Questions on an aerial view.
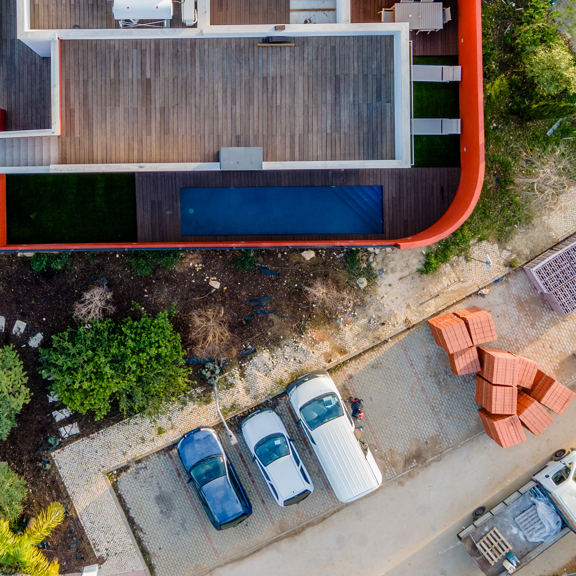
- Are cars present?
Yes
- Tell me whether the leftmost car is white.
No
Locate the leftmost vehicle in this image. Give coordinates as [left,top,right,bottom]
[177,420,259,538]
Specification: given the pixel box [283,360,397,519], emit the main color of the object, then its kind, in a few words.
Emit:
white van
